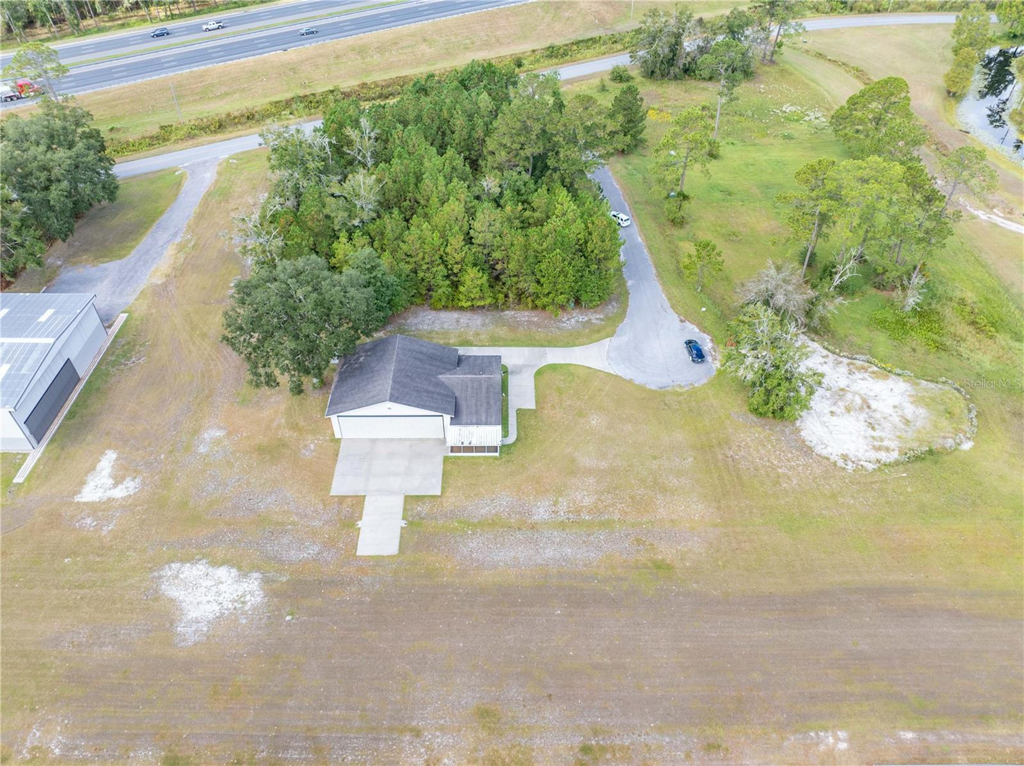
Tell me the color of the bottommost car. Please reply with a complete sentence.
The color of the bottommost car is blue.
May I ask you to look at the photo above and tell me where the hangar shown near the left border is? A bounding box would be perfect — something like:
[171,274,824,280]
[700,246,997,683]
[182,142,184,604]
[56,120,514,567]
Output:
[0,294,111,454]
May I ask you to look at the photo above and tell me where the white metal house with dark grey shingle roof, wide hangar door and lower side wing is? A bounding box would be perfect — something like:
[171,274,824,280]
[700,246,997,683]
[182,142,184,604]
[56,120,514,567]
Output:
[325,332,503,456]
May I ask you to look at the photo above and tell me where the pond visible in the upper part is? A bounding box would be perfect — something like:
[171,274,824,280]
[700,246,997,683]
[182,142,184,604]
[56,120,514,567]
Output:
[953,41,1024,173]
